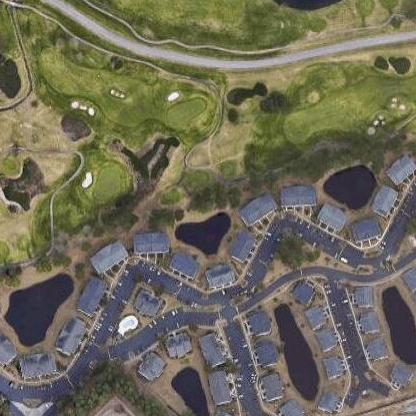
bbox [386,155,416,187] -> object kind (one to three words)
building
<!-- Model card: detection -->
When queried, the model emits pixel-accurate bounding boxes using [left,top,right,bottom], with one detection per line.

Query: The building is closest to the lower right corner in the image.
[387,361,414,387]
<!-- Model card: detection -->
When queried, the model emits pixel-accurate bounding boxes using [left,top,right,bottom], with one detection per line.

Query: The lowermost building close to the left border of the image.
[21,353,58,380]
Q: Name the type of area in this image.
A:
golf course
